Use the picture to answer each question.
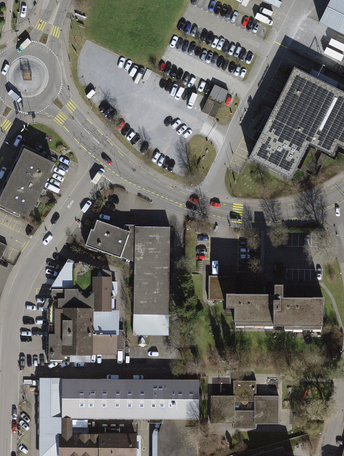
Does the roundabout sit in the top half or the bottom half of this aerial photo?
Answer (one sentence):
You can find the roundabout in the top half.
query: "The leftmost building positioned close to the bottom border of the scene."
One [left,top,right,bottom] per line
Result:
[39,378,61,456]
